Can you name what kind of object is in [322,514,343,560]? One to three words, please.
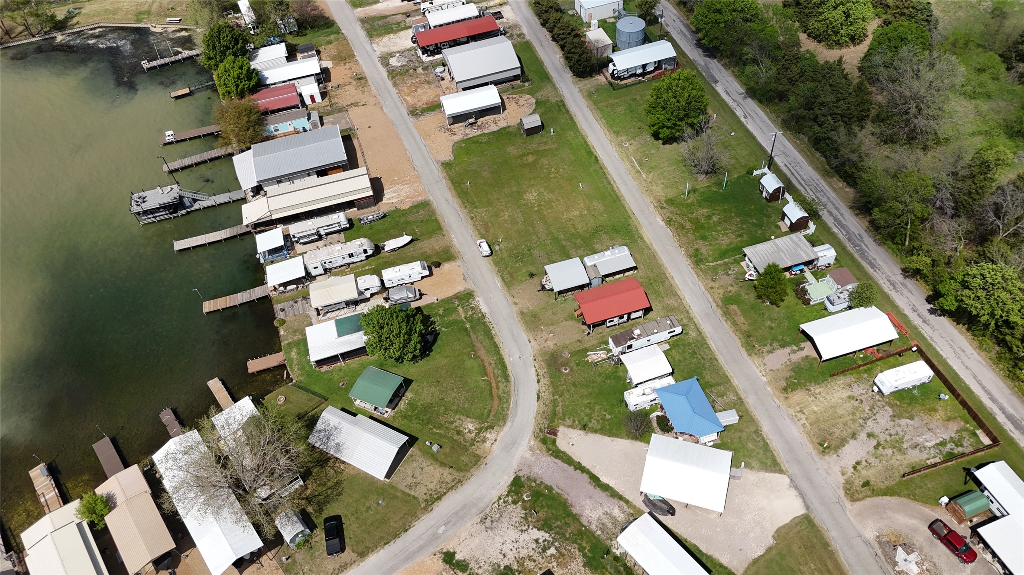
truck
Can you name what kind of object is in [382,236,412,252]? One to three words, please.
boat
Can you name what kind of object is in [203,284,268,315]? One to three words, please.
pier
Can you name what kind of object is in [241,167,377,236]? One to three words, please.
building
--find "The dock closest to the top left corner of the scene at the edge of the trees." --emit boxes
[143,48,200,71]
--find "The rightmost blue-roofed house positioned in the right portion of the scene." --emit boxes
[656,376,724,446]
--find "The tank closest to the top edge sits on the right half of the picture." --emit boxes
[612,11,645,49]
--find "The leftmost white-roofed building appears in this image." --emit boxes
[22,503,103,575]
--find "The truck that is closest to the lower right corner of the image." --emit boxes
[926,518,978,568]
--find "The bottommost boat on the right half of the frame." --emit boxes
[643,495,677,519]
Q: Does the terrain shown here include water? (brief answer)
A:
Yes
